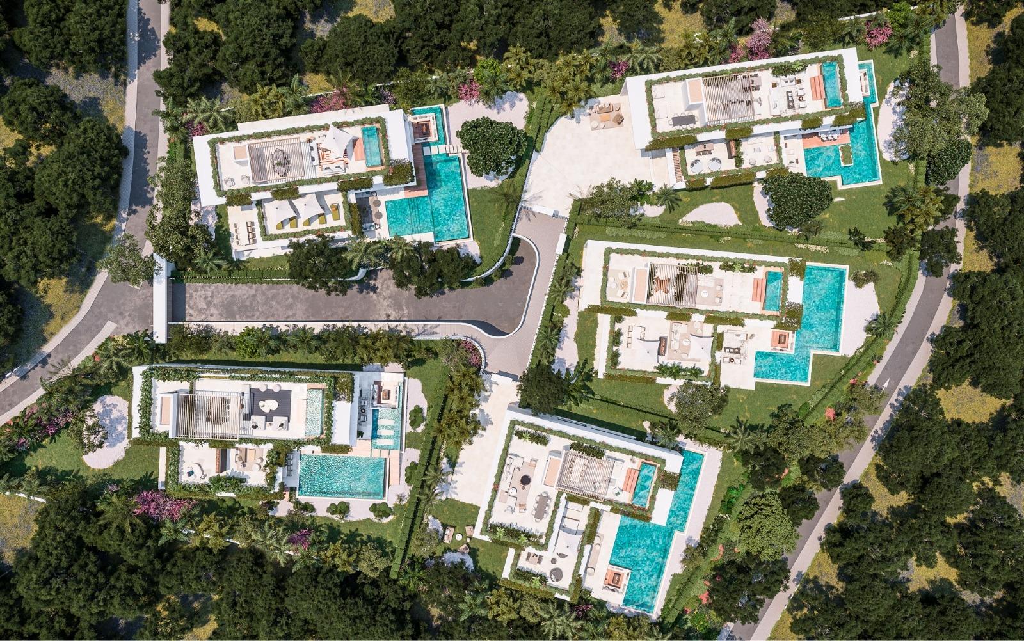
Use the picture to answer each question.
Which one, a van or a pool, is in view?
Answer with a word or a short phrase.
pool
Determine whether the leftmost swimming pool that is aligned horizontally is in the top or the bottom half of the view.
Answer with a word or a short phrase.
bottom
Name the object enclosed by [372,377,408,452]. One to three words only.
swimming pool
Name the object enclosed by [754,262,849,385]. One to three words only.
swimming pool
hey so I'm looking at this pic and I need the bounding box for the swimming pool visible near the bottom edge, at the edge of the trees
[610,446,708,617]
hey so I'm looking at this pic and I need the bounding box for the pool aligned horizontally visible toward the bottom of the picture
[296,454,390,503]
